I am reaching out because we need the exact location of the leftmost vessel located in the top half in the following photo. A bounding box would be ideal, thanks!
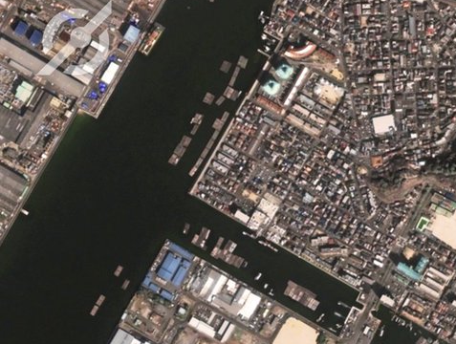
[141,26,161,55]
